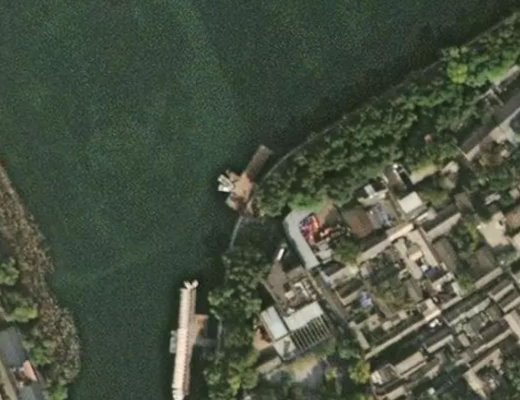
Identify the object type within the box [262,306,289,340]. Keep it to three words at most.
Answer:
shed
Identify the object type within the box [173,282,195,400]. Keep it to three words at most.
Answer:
boat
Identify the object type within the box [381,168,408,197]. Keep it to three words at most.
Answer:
house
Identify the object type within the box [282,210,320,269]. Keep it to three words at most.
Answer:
building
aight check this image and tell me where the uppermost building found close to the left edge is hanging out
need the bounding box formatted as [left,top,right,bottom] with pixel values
[0,325,32,365]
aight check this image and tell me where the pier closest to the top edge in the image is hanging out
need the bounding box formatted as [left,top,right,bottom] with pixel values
[245,145,273,178]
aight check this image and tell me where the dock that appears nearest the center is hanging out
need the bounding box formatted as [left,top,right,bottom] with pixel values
[234,173,254,202]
